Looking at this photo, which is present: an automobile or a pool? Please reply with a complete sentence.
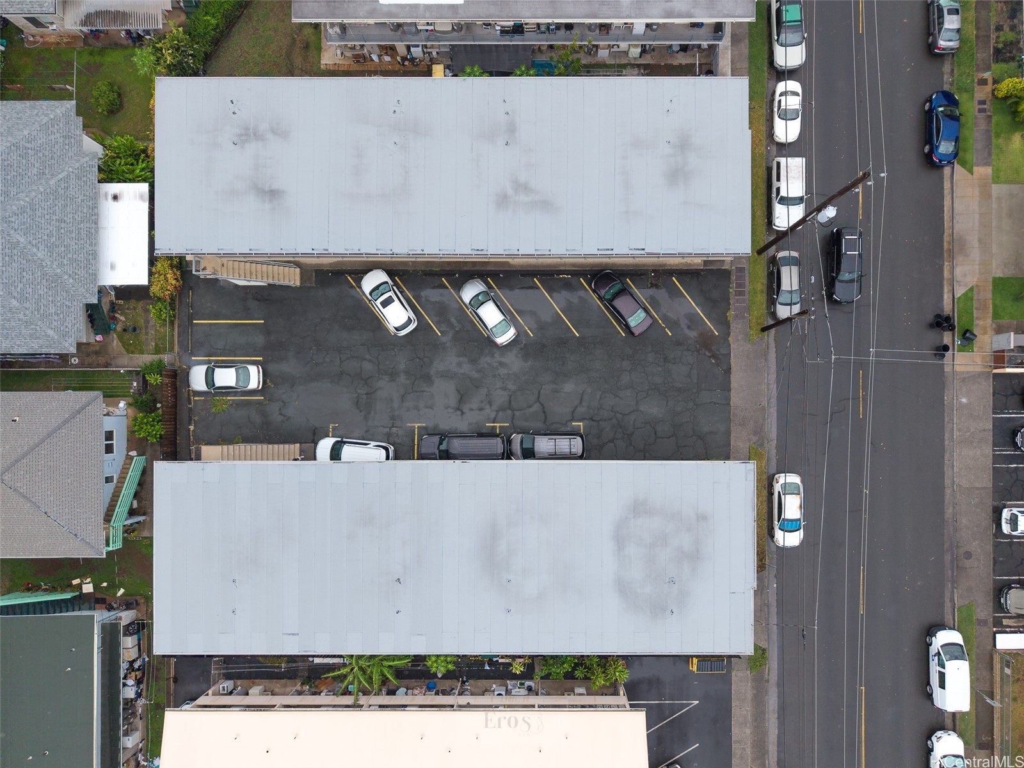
There is an automobile in the scene.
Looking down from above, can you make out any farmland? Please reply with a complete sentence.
No, the picture contains no farmland.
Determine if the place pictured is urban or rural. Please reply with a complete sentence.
From above, the setting appears urban.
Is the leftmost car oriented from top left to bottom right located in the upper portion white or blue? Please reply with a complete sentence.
The leftmost car oriented from top left to bottom right located in the upper portion looks white in the image.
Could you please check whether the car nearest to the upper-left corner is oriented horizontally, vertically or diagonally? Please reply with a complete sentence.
The car nearest to the upper-left corner has been laid out horizontally relative to the frame.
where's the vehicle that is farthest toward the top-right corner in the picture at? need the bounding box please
[925,0,963,58]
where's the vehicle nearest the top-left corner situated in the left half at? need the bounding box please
[189,362,266,393]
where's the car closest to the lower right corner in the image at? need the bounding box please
[926,726,965,768]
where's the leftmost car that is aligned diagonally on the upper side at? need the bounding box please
[362,270,417,337]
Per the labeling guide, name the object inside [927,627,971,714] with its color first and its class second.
white car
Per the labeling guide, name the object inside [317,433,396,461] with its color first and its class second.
white car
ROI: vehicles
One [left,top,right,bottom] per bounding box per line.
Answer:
[770,154,807,231]
[317,433,396,461]
[926,726,965,768]
[927,627,971,714]
[1002,505,1024,536]
[925,0,963,58]
[827,226,866,302]
[461,279,518,347]
[770,0,808,73]
[189,362,266,393]
[419,431,506,461]
[1000,583,1024,615]
[508,431,586,461]
[769,248,804,321]
[770,473,805,548]
[592,270,653,337]
[923,91,962,168]
[362,270,417,337]
[770,79,804,147]
[658,760,686,768]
